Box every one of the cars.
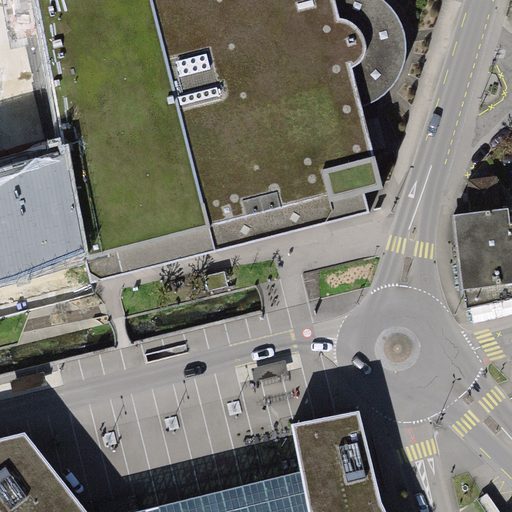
[64,469,84,493]
[310,340,333,352]
[489,126,510,147]
[414,493,430,512]
[252,346,274,360]
[471,142,492,163]
[352,356,372,375]
[184,362,207,376]
[428,112,441,135]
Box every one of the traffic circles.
[334,284,483,424]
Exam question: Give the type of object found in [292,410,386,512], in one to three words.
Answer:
building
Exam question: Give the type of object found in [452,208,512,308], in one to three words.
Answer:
building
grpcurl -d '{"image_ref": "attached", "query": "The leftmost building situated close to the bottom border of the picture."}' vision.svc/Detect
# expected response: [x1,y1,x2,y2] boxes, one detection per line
[0,432,89,512]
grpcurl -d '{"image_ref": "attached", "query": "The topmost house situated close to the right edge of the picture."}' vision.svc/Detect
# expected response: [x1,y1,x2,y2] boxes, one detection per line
[458,165,504,212]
